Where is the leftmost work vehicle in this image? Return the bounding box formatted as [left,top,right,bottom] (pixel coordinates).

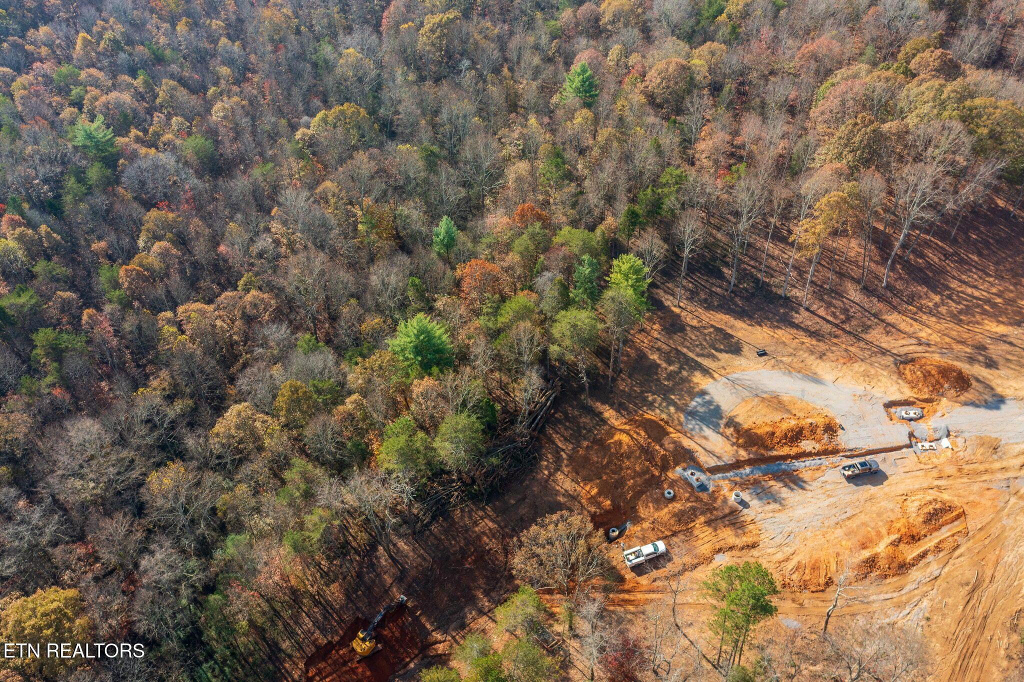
[351,600,402,661]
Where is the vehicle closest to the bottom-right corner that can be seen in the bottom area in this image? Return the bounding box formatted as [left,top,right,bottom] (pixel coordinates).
[841,461,883,480]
